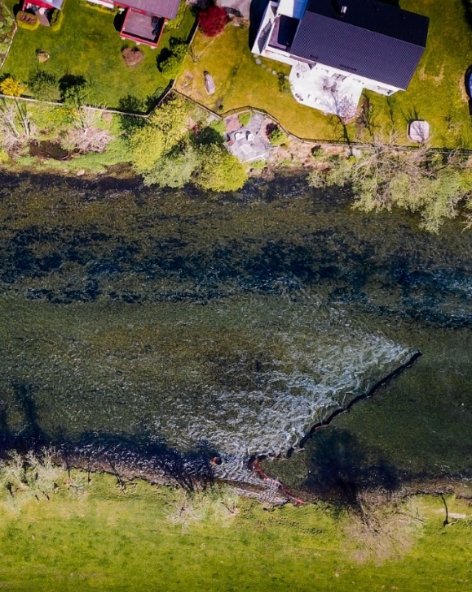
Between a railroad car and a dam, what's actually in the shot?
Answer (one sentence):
It is a dam that can be seen here.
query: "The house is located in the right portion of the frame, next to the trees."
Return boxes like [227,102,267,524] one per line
[251,0,429,98]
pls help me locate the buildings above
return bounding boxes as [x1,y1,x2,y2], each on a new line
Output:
[21,0,66,11]
[251,0,429,98]
[89,0,182,57]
